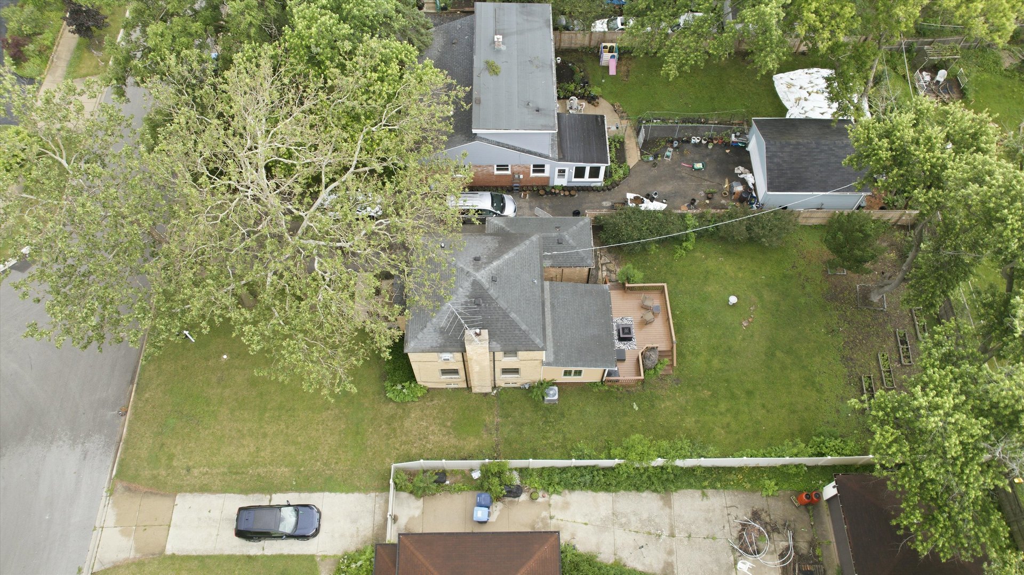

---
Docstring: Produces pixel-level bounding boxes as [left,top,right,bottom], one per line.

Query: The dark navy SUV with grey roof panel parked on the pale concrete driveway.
[231,501,323,546]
